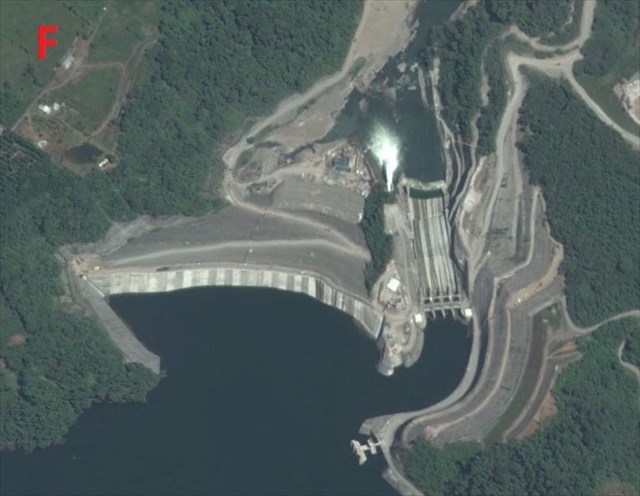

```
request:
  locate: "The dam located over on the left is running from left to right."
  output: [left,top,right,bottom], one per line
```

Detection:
[76,205,384,339]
